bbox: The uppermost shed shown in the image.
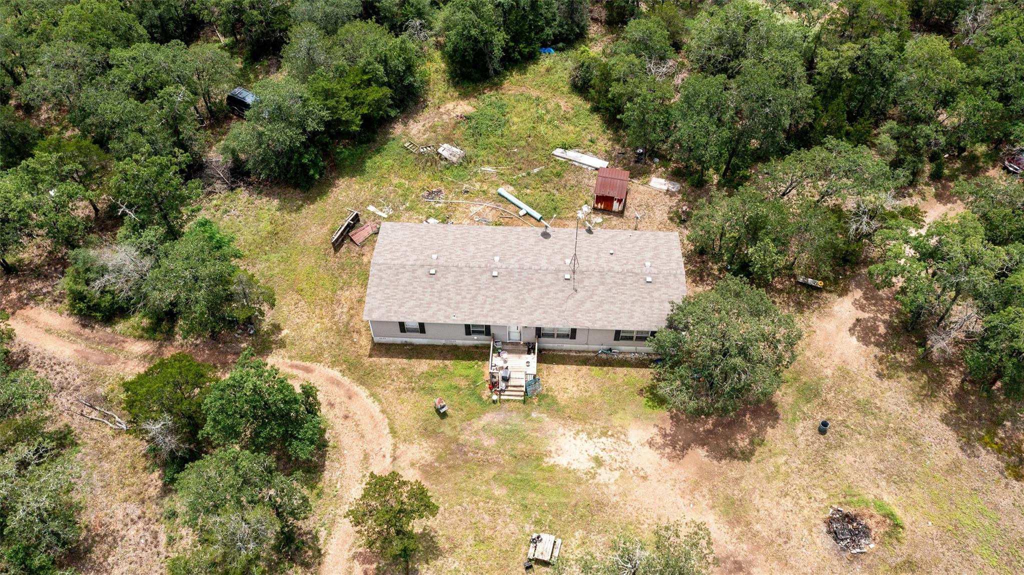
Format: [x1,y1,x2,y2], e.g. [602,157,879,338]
[593,166,633,214]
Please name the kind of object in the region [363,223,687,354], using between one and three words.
house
